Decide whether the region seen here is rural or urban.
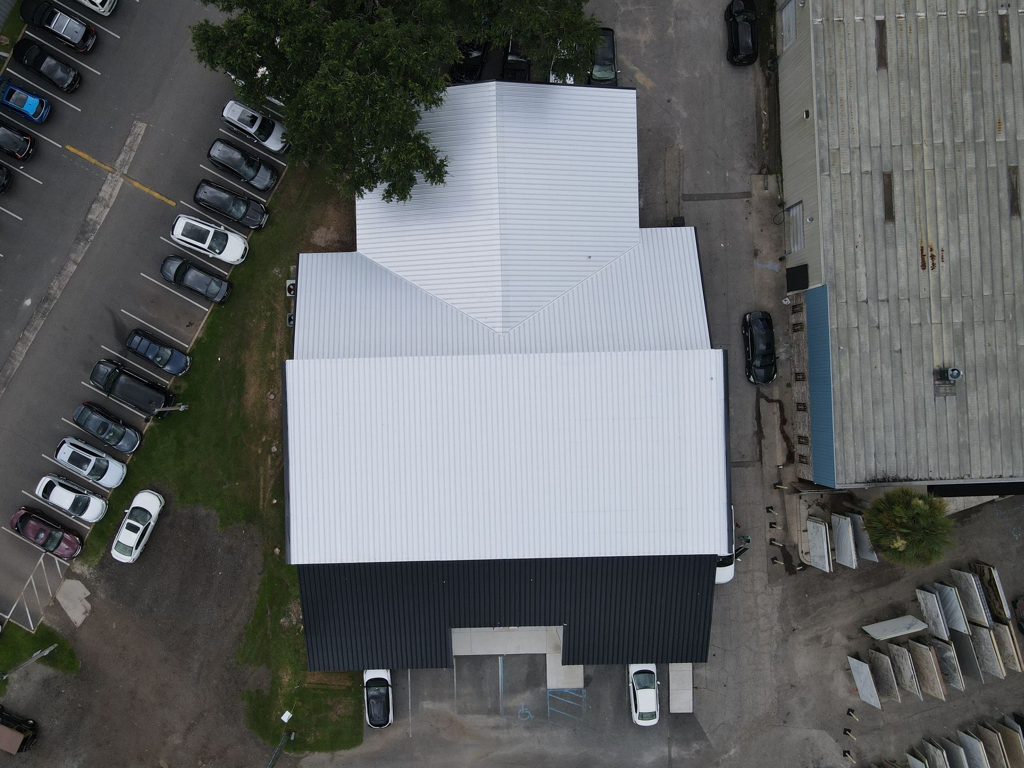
urban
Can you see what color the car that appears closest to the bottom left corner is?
black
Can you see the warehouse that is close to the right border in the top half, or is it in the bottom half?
top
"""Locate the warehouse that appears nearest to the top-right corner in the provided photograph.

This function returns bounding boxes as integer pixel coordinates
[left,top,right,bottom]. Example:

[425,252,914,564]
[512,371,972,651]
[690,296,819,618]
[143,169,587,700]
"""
[772,0,1024,488]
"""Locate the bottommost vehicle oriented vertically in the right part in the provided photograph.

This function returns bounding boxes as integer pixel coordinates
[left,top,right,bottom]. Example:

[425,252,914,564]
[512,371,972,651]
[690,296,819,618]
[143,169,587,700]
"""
[629,664,661,731]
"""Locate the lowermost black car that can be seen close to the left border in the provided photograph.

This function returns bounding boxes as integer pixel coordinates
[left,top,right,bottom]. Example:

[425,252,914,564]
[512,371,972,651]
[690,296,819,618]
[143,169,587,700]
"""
[0,703,45,757]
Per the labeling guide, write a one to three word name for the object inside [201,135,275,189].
car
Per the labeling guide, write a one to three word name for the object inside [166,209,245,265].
car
